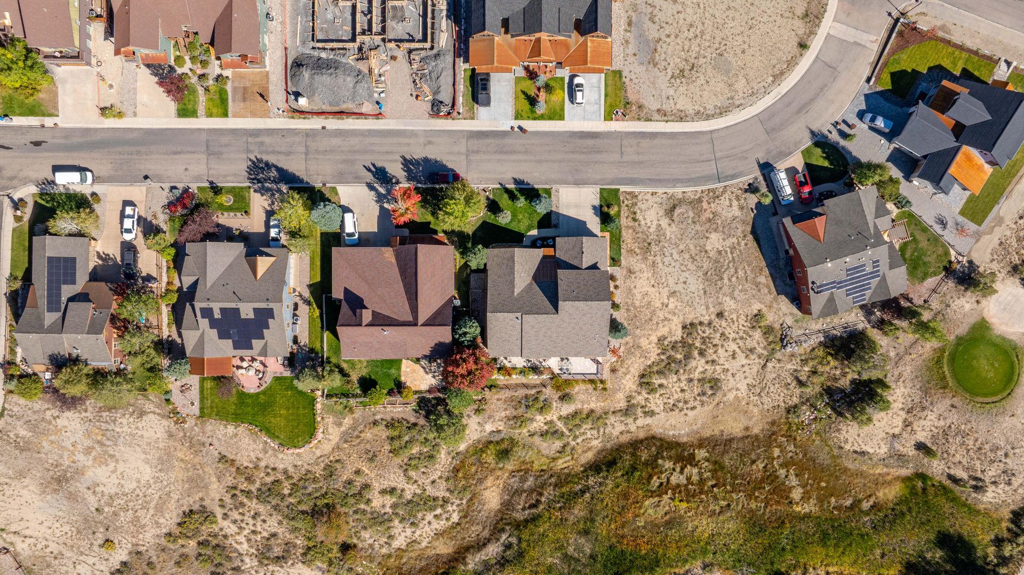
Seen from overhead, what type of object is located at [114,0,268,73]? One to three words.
house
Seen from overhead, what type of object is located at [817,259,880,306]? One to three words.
solar array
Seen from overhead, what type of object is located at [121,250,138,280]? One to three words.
car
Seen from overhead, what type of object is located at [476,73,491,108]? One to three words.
vehicle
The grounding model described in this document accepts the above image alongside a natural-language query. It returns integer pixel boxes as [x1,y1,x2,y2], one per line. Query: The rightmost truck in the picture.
[860,112,895,135]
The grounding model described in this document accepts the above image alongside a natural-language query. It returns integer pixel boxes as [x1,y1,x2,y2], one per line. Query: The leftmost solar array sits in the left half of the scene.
[47,257,76,312]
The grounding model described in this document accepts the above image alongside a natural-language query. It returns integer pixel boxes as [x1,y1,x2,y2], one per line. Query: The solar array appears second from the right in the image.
[200,308,274,350]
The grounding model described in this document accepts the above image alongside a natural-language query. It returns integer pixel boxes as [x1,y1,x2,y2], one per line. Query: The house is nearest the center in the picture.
[486,237,612,358]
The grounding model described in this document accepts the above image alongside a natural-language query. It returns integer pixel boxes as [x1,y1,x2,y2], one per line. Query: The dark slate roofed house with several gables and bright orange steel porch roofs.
[887,73,1024,196]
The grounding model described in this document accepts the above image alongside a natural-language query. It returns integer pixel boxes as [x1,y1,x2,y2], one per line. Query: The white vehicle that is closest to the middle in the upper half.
[343,211,359,246]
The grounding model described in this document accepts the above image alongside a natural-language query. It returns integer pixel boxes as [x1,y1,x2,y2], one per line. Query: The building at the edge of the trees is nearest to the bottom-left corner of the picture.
[13,235,126,376]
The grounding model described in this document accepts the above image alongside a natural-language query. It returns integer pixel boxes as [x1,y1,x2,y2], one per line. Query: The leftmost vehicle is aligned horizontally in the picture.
[53,169,96,185]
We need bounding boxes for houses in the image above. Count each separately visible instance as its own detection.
[178,242,293,378]
[469,0,611,73]
[13,235,126,376]
[774,184,908,319]
[0,0,91,68]
[887,73,1024,196]
[333,235,454,359]
[486,237,612,358]
[114,0,268,73]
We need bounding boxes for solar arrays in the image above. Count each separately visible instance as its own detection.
[47,257,76,312]
[200,308,274,350]
[817,259,880,306]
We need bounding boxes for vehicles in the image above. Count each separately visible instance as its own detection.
[476,73,491,108]
[794,172,814,204]
[860,112,895,135]
[267,214,283,248]
[572,75,587,107]
[121,250,138,280]
[343,211,359,246]
[770,168,793,205]
[53,169,96,185]
[120,205,139,241]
